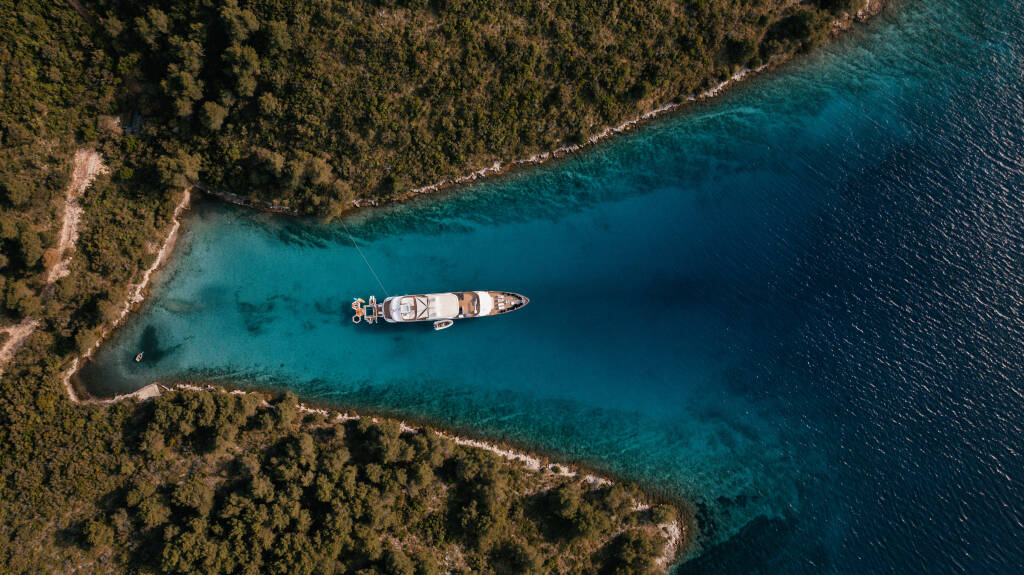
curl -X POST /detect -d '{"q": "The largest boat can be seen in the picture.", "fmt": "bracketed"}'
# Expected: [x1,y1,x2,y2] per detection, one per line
[376,290,529,321]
